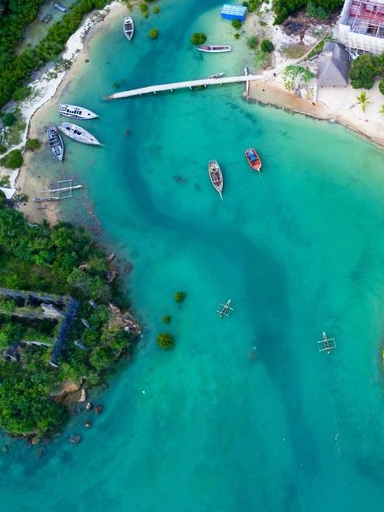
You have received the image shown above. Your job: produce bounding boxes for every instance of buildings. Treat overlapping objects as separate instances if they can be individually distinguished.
[339,0,384,56]
[222,4,248,23]
[317,41,350,93]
